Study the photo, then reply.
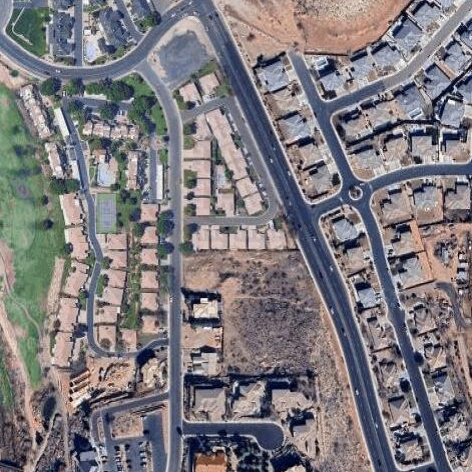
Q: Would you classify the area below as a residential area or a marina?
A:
residential area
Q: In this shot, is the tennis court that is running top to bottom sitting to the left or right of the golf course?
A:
on its right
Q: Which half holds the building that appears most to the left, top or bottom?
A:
top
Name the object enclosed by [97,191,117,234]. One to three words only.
tennis court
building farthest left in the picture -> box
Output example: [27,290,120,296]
[19,84,52,140]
